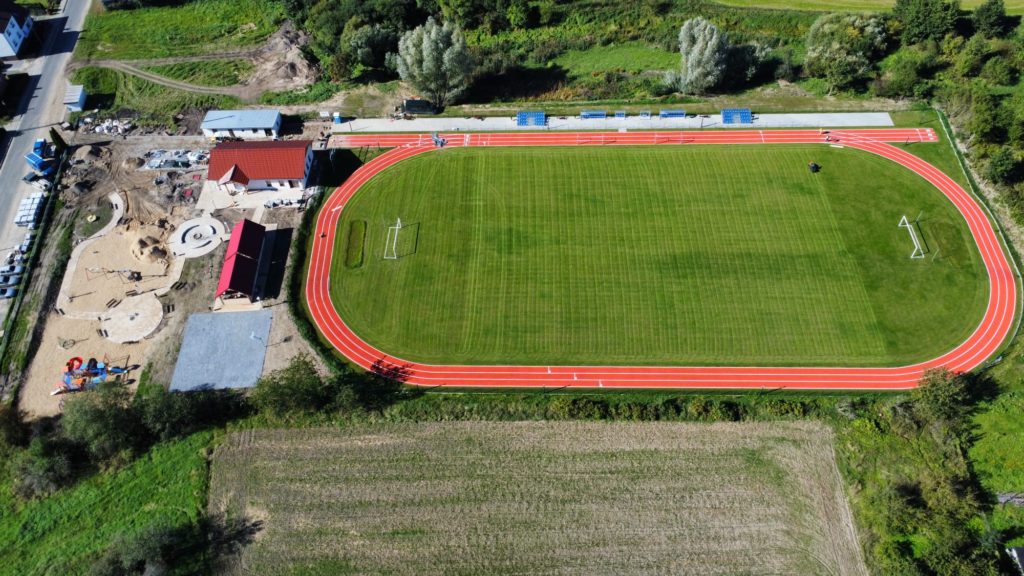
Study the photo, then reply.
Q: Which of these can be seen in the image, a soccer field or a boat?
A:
soccer field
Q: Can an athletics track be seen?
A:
Yes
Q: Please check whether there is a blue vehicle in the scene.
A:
Yes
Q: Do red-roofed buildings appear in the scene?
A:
Yes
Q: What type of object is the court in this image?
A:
basketball court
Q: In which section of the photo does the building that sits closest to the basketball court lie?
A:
left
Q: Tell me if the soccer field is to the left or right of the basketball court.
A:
to the right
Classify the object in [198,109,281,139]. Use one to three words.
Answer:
building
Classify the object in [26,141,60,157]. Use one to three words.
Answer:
vehicle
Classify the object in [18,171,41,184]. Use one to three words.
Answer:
vehicle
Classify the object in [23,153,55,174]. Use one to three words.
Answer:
truck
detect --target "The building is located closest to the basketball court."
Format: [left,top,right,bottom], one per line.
[217,218,267,303]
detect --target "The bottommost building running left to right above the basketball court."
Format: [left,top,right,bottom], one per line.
[207,142,315,195]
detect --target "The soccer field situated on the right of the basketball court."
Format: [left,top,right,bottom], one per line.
[328,143,990,368]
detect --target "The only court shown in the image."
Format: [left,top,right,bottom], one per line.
[169,310,272,391]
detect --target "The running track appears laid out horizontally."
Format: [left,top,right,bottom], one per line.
[307,129,1016,389]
